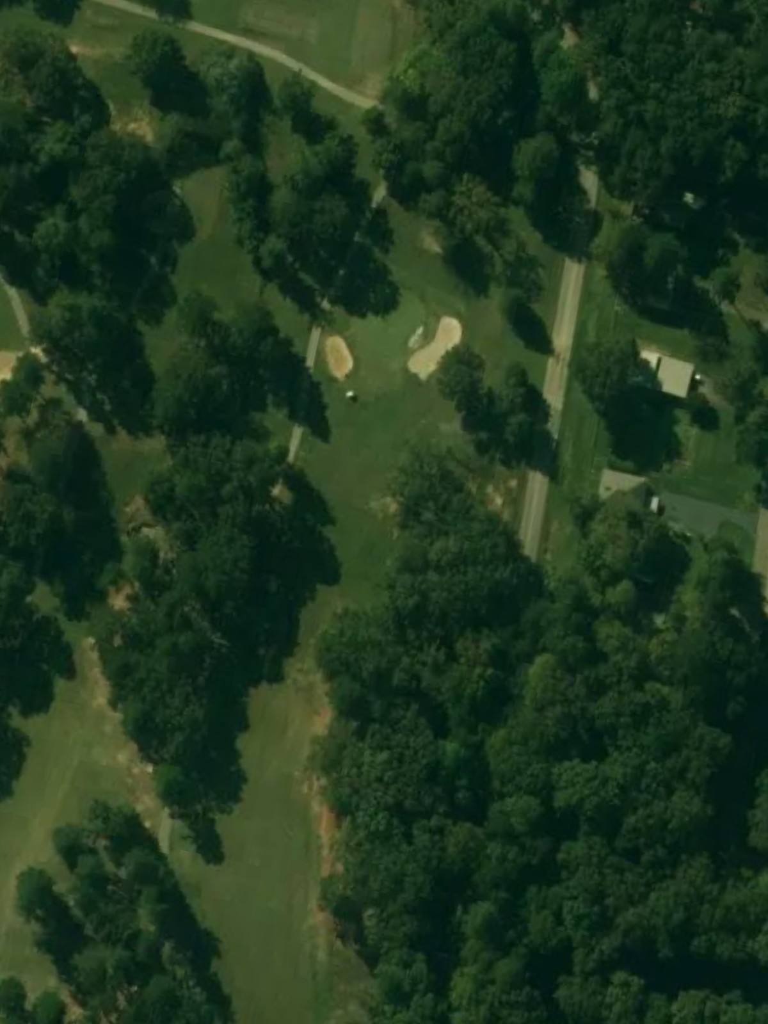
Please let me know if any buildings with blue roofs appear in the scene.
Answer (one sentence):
No, no building with a blue roof can be seen from above.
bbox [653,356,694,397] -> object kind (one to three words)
building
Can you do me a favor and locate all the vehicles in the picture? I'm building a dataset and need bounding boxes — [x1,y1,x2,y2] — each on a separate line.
[649,495,660,513]
[346,391,356,399]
